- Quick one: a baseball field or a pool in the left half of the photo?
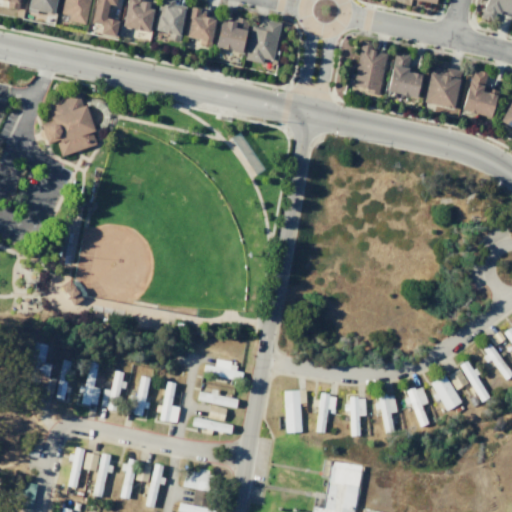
baseball field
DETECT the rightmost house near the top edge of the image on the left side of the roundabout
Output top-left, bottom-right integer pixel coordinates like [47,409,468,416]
[248,18,284,62]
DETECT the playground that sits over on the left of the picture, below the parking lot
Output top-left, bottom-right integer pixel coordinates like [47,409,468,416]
[14,258,42,314]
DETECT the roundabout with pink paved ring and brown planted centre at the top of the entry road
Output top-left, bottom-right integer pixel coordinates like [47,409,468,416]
[296,0,364,44]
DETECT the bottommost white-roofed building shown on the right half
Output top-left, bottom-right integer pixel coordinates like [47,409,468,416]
[313,459,365,512]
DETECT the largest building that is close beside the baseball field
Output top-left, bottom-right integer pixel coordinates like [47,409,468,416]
[44,96,100,159]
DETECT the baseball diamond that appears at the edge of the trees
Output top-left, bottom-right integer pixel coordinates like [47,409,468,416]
[79,130,246,316]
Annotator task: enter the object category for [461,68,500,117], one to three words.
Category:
house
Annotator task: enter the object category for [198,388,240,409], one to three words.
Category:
house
